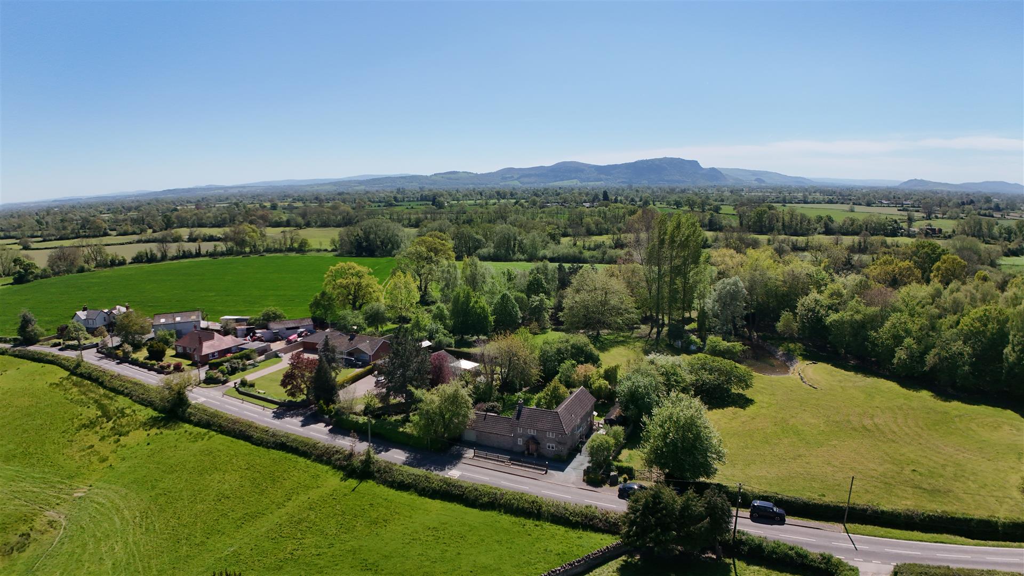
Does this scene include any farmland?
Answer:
Yes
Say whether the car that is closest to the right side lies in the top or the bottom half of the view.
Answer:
bottom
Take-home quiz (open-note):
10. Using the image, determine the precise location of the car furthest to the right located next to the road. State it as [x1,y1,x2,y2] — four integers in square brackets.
[746,500,786,524]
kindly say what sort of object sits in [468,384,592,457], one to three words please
house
